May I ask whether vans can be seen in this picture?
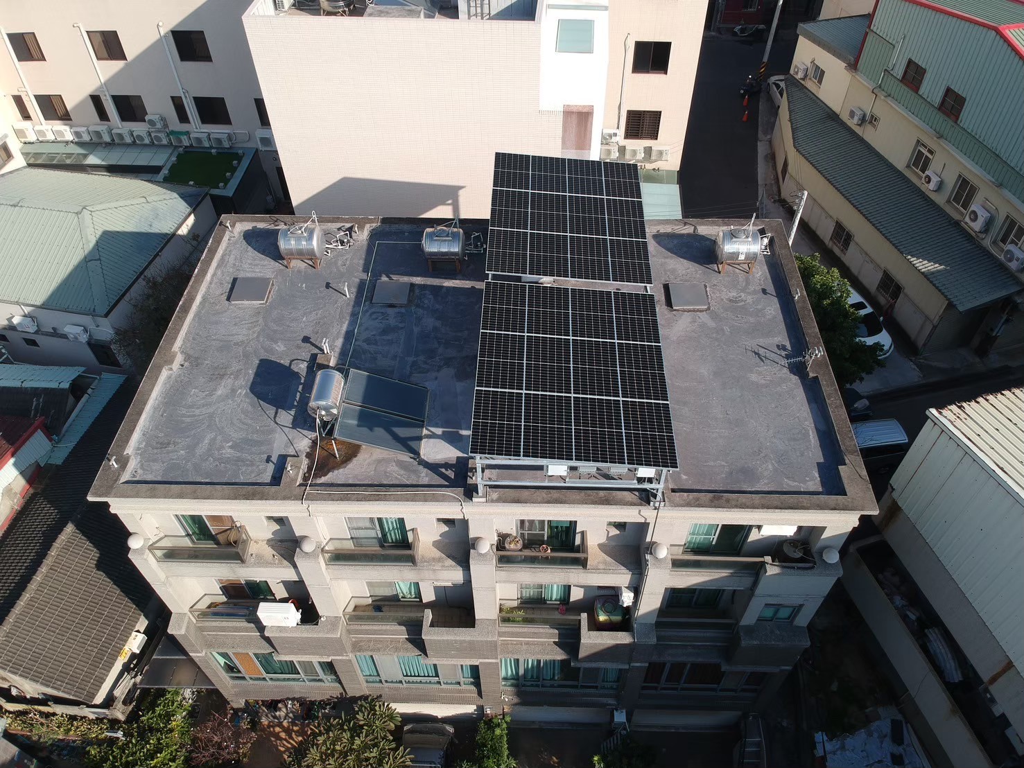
Yes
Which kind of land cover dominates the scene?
buildings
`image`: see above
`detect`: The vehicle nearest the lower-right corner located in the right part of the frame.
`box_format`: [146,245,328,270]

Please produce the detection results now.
[852,420,906,477]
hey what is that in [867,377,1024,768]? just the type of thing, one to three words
warehouse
